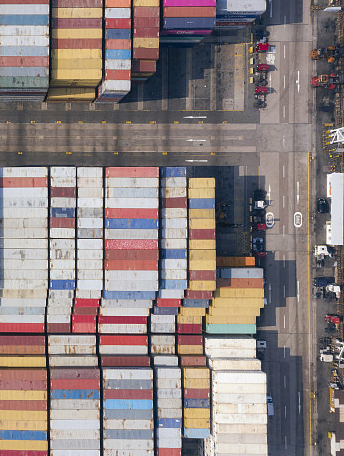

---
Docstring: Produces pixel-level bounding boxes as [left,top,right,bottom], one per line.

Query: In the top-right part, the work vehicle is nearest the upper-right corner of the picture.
[314,44,344,60]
